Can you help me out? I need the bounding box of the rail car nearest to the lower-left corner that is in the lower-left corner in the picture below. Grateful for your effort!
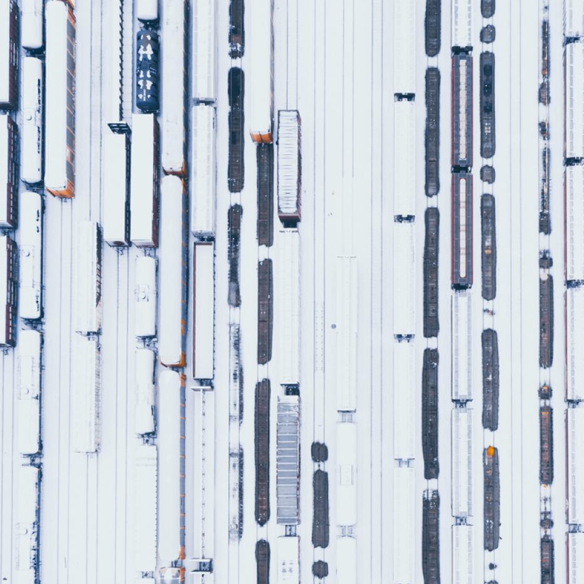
[14,459,42,584]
